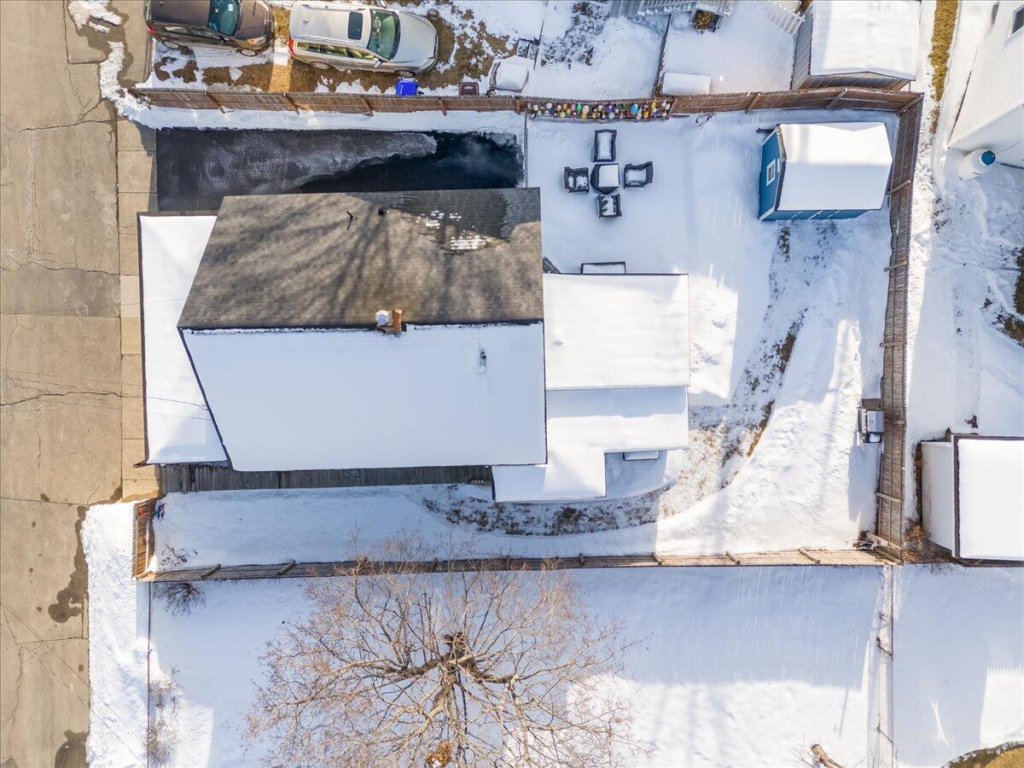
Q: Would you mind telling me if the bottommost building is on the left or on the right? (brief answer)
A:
right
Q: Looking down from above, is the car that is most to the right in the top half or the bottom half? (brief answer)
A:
top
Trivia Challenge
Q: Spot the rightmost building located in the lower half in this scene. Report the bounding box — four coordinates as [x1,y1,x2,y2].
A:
[922,434,1024,562]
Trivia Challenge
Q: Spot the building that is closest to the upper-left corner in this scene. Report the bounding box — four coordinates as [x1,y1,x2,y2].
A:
[137,186,689,502]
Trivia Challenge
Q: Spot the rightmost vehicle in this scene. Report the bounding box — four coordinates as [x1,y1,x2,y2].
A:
[286,0,440,72]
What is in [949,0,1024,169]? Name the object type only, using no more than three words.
house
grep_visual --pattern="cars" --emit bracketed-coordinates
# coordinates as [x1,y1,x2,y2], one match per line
[144,0,281,49]
[286,0,440,72]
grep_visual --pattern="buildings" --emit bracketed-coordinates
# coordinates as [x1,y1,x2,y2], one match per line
[922,434,1024,562]
[793,0,919,92]
[949,0,1024,169]
[137,186,689,502]
[761,122,892,220]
